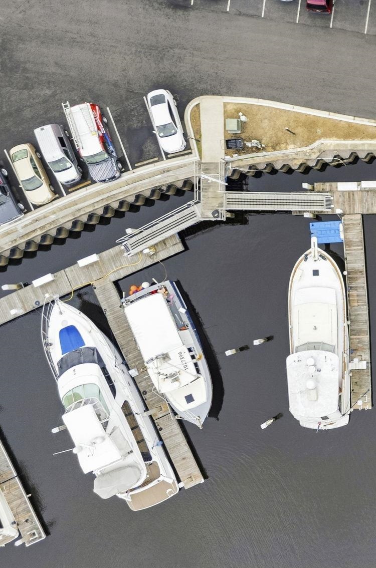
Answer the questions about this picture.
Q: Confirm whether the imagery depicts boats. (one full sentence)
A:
Yes, the photo shows a boat.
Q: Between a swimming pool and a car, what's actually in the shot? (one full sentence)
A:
There is a car in the scene.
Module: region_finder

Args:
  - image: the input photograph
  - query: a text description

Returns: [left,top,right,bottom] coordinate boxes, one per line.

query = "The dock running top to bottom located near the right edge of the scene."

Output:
[342,214,375,410]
